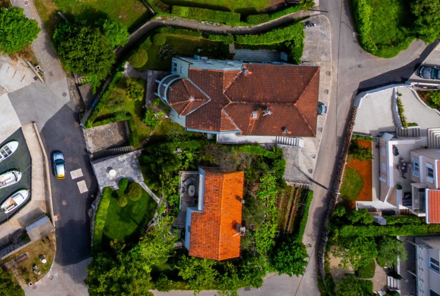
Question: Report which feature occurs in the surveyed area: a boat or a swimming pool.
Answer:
boat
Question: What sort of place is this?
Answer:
residential area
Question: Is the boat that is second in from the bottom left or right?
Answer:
left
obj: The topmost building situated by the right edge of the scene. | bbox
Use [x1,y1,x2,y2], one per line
[377,135,440,224]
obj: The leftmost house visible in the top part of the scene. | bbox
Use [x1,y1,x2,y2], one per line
[152,50,320,144]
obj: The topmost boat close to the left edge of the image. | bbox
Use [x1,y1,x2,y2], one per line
[0,142,18,163]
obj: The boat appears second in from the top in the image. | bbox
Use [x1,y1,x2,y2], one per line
[0,165,30,190]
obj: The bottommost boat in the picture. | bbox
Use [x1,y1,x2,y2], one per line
[0,191,30,221]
